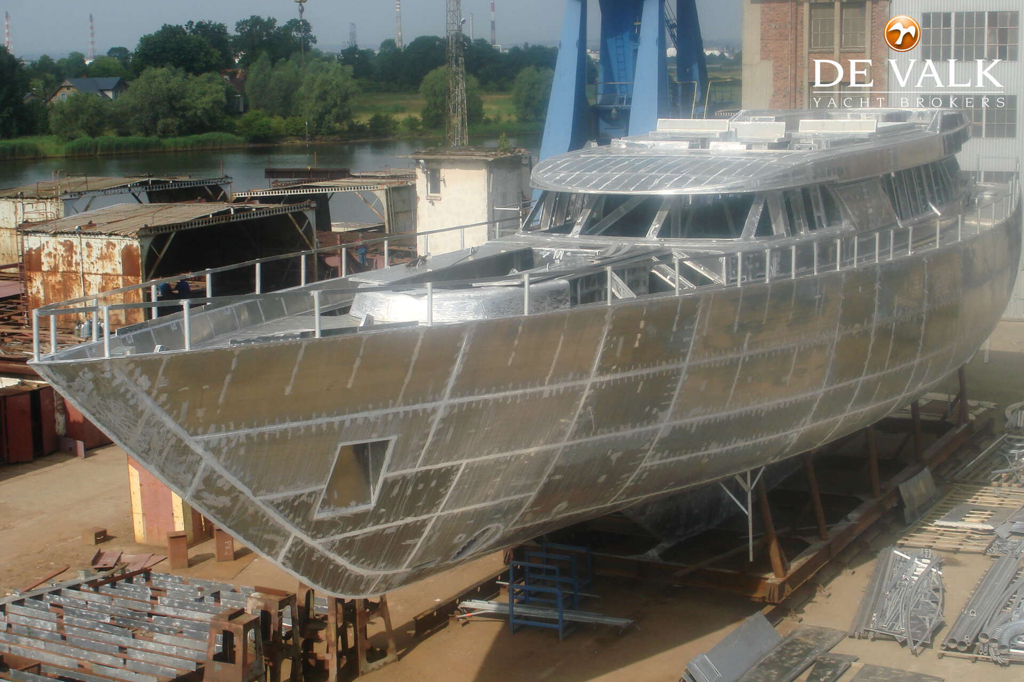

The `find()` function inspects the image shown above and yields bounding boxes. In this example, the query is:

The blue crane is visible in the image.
[530,0,707,227]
